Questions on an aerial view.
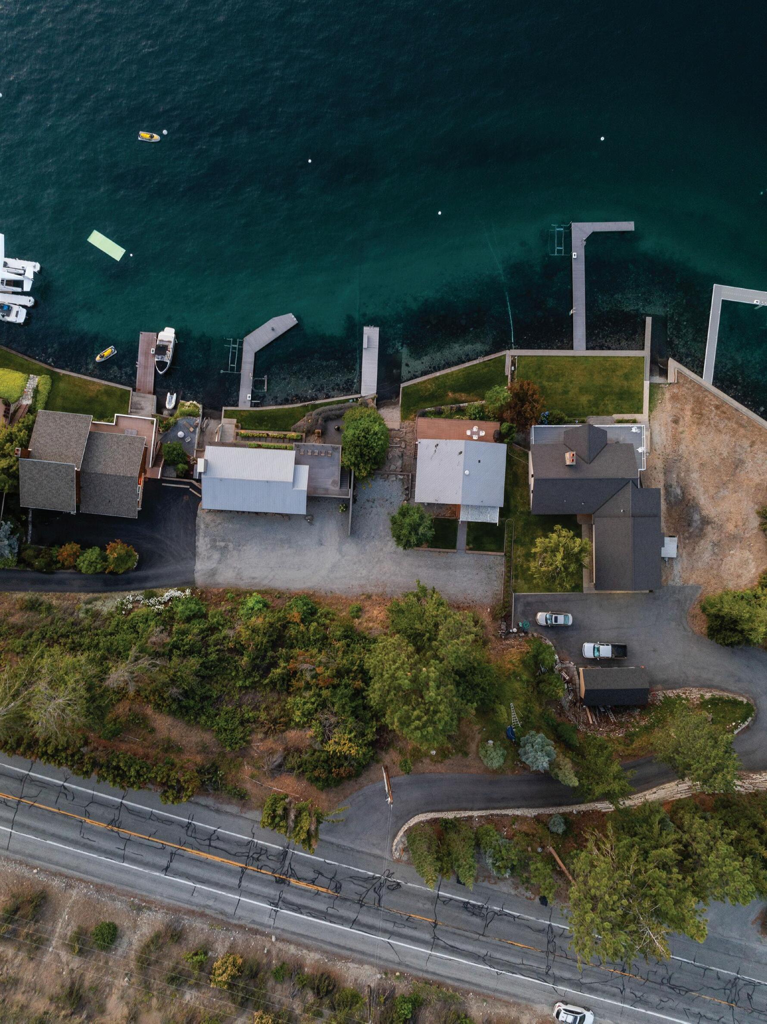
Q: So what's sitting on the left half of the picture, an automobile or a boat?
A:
boat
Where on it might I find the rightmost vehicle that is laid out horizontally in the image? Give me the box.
[582,642,627,660]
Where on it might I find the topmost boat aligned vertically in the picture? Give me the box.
[155,323,175,372]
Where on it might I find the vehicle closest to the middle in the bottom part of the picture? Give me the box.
[535,611,572,628]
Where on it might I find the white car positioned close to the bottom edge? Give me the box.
[553,1001,593,1024]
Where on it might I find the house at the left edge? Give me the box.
[15,410,165,518]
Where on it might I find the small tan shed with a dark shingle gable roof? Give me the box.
[580,665,649,705]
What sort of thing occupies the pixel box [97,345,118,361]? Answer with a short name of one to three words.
boat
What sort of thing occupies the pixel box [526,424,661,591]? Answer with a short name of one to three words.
house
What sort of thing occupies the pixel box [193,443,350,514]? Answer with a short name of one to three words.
house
